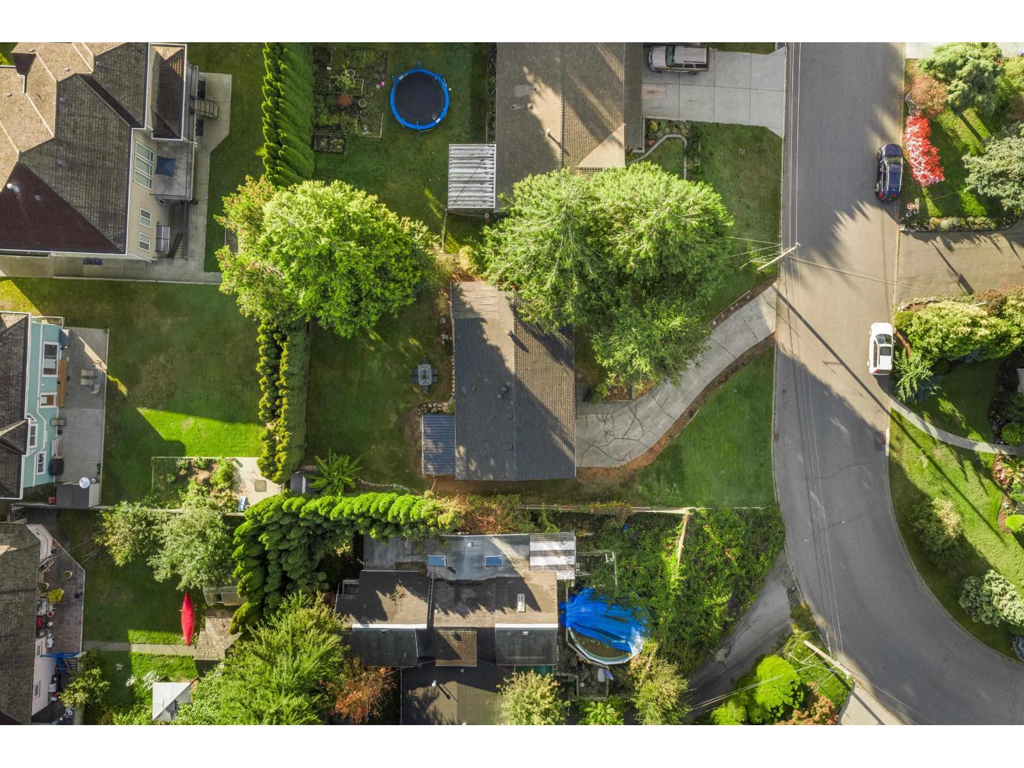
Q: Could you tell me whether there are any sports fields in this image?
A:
No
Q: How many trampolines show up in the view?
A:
1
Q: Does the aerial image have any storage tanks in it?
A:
No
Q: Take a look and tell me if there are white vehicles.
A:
Yes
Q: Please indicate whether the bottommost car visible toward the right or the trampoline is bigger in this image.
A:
the trampoline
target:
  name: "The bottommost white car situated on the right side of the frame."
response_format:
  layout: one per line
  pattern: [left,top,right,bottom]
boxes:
[867,322,897,376]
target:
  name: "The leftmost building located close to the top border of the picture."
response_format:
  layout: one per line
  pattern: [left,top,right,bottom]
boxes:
[0,19,218,259]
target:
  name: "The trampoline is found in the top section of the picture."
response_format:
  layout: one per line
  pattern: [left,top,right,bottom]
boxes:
[390,62,450,132]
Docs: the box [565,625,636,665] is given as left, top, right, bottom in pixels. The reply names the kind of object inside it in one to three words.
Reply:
swimming pool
